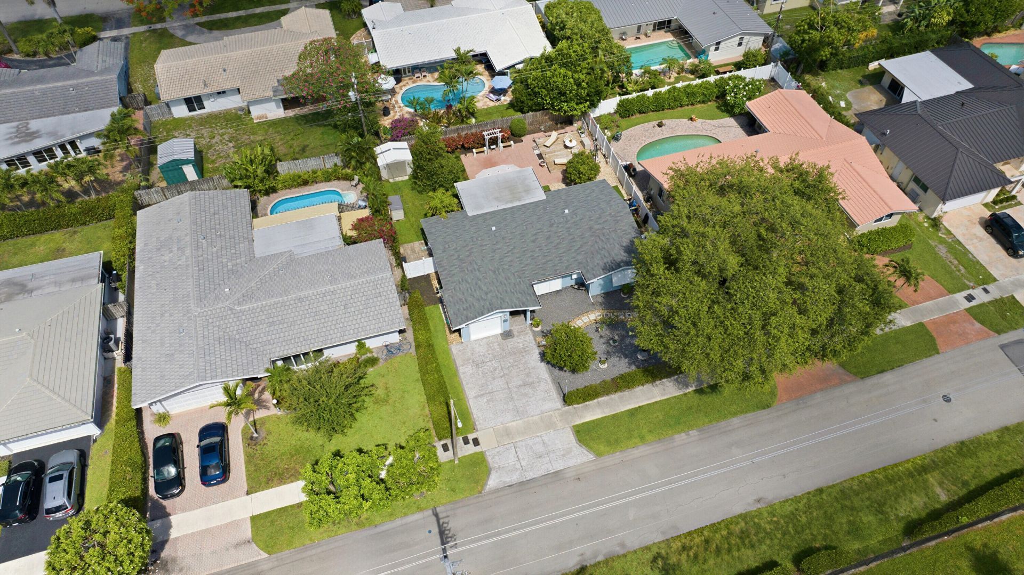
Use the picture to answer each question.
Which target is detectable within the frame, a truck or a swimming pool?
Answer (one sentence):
It is a swimming pool that can be seen here.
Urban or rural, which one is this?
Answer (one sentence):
The area shown here is urban.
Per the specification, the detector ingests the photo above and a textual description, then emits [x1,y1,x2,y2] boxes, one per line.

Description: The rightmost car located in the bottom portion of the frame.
[195,423,232,488]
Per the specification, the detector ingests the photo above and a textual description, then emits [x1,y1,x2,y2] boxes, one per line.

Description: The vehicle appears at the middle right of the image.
[987,213,1024,260]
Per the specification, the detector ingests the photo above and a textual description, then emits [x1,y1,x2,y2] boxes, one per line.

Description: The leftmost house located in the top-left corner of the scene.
[0,35,130,168]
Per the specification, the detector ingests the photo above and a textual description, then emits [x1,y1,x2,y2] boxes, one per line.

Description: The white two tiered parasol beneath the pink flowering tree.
[372,75,399,96]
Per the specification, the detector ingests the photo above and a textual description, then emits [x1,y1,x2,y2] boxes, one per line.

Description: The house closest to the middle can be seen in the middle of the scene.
[417,163,656,343]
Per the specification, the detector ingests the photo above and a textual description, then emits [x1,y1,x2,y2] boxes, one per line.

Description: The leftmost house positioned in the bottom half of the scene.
[0,249,107,456]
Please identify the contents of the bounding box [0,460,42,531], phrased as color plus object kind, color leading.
black car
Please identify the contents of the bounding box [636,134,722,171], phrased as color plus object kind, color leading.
green swimming pool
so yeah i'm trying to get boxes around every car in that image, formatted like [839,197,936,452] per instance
[0,460,42,531]
[987,213,1024,260]
[150,431,187,501]
[38,449,83,520]
[195,423,232,488]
